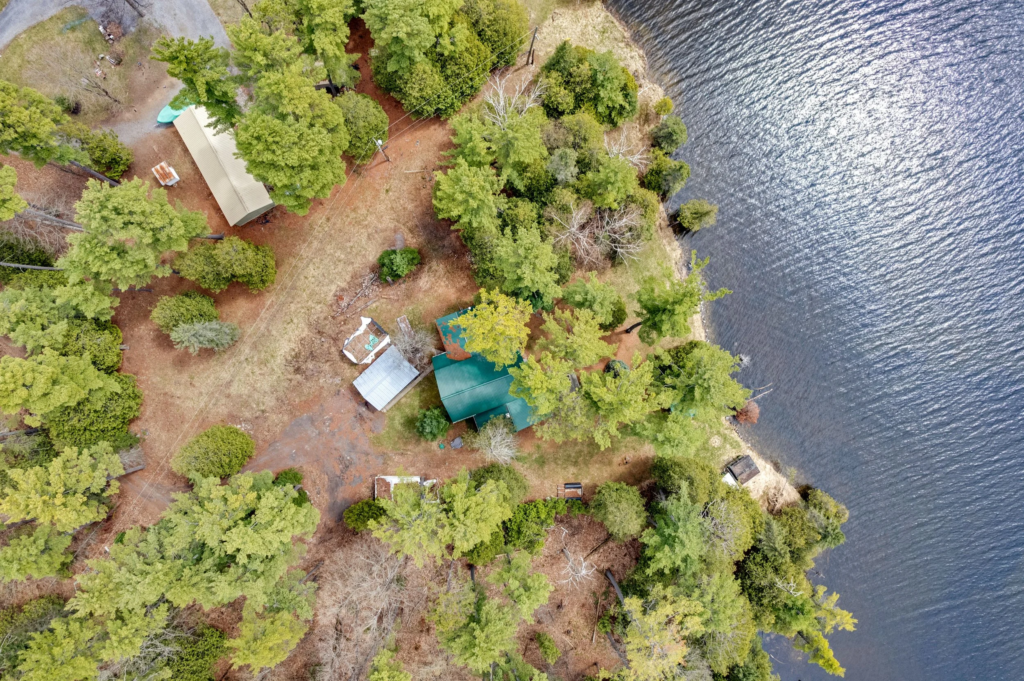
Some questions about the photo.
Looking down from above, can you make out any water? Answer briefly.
Yes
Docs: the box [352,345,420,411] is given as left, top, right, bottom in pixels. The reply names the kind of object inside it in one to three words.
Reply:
shed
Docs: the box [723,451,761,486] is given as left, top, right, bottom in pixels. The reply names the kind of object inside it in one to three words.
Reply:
shed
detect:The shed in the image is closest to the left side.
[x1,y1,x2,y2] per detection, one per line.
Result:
[151,160,181,187]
